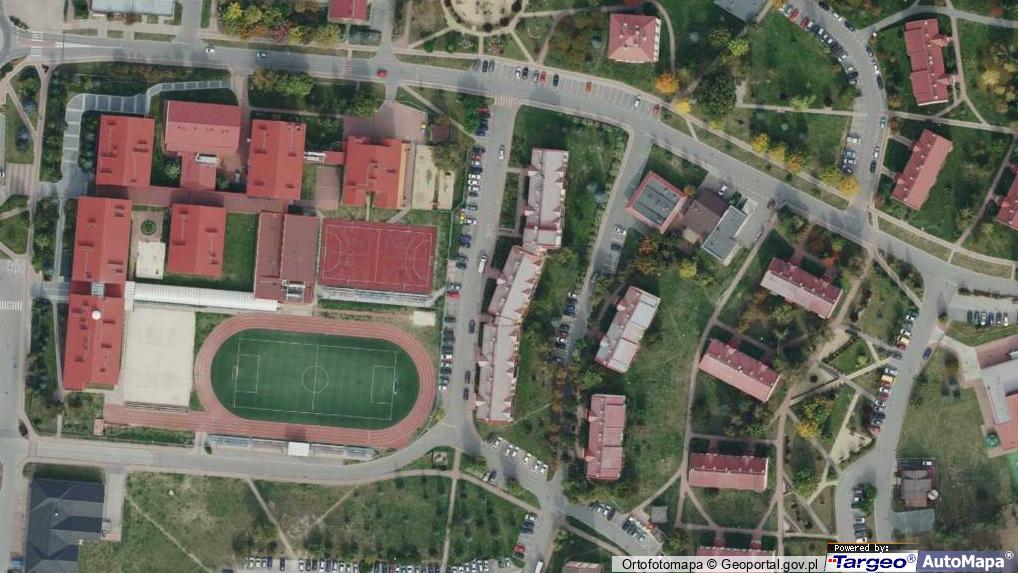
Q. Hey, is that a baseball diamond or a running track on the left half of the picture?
running track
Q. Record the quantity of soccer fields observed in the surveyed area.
1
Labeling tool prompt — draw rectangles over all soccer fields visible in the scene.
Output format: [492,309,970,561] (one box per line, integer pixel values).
[210,330,421,431]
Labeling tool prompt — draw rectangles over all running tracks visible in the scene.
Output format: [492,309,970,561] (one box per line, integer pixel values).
[103,314,437,447]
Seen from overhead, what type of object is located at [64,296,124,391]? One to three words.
building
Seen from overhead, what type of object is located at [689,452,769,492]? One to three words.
building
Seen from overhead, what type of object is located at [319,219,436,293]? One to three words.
sports court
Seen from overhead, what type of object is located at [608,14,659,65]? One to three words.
house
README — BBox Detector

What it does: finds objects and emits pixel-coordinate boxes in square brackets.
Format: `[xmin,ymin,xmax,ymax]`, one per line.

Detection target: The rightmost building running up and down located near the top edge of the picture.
[905,18,952,105]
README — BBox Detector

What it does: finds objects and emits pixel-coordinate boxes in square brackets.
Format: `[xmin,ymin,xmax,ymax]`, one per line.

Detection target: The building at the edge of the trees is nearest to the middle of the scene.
[486,245,548,324]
